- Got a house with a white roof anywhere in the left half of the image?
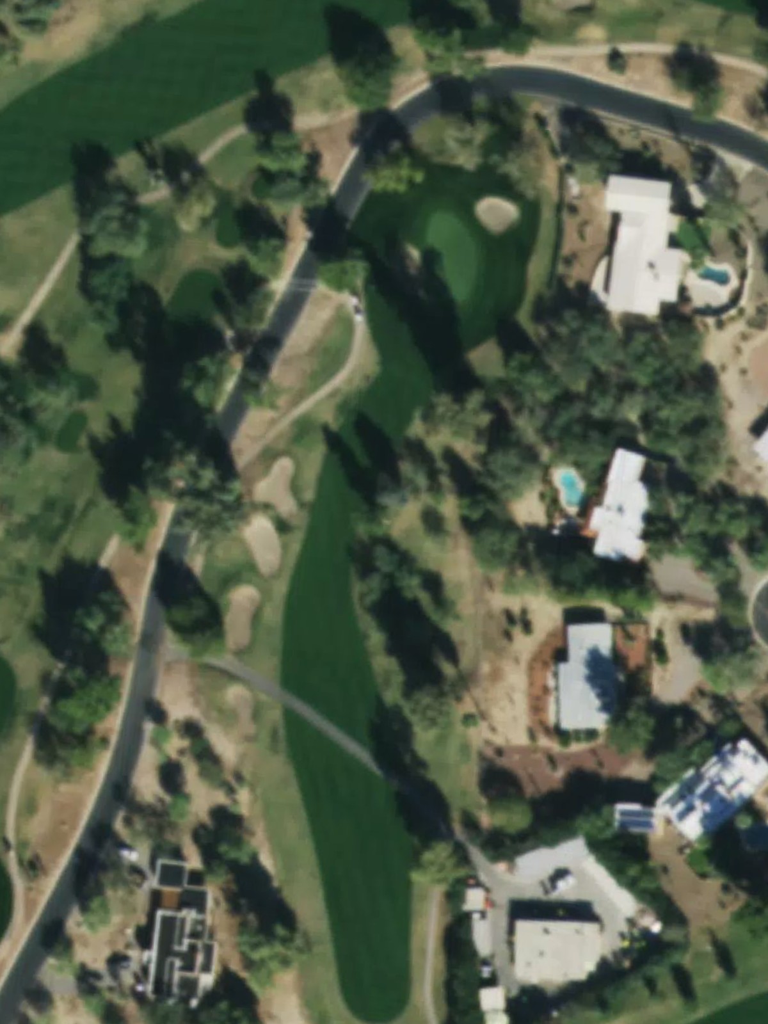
No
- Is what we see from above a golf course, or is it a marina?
golf course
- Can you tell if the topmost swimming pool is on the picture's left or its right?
right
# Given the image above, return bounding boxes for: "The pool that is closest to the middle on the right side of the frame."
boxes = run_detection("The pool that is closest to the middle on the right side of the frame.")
[552,466,586,514]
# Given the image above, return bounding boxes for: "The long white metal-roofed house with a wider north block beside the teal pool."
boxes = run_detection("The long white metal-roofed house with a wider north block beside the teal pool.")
[606,174,680,315]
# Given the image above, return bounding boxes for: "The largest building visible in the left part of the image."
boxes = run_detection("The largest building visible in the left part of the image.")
[142,860,218,1007]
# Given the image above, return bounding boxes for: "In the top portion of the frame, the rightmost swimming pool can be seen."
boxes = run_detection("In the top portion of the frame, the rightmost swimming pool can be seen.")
[685,257,739,308]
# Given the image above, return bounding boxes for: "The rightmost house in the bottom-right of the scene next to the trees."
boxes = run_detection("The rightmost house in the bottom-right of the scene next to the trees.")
[656,738,768,843]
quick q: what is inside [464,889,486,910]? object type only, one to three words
shed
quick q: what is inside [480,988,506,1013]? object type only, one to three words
shed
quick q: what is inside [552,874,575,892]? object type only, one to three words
vehicle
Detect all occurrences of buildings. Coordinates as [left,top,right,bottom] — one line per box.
[755,431,768,460]
[485,1013,509,1024]
[548,624,647,731]
[580,449,649,561]
[464,889,486,910]
[515,923,602,984]
[480,988,506,1013]
[142,860,218,1007]
[656,738,768,843]
[606,174,680,315]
